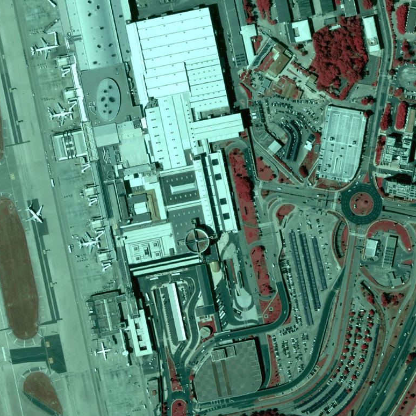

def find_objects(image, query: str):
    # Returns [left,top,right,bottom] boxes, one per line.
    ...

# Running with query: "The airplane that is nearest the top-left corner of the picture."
[31,38,59,60]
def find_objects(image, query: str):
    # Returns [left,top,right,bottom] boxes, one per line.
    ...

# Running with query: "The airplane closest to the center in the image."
[79,233,100,255]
